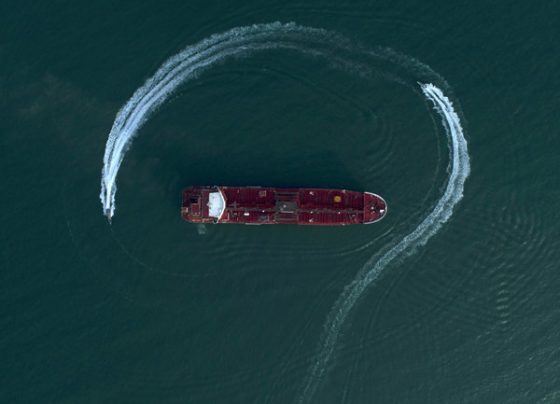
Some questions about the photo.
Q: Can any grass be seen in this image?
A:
No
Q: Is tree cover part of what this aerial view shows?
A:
No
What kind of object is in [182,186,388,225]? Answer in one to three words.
ship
